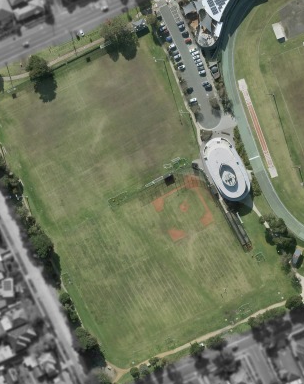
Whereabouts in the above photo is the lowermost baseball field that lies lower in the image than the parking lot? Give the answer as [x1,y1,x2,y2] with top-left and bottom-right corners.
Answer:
[34,162,294,366]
